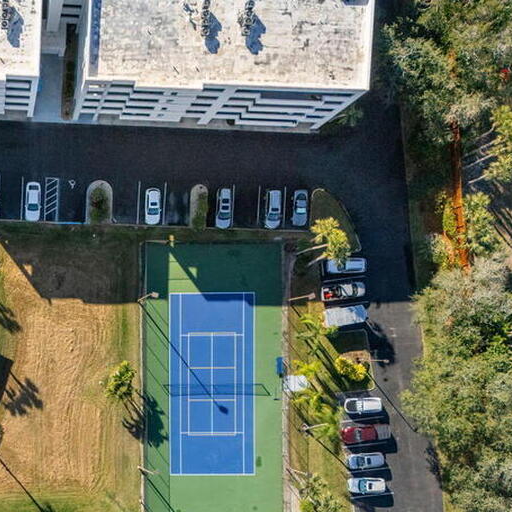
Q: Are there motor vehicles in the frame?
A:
Yes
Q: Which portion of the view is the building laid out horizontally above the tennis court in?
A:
top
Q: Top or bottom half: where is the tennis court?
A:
bottom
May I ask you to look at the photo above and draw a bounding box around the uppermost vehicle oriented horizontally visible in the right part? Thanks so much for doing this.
[325,258,366,274]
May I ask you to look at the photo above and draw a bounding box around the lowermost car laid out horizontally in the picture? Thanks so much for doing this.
[347,477,387,495]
